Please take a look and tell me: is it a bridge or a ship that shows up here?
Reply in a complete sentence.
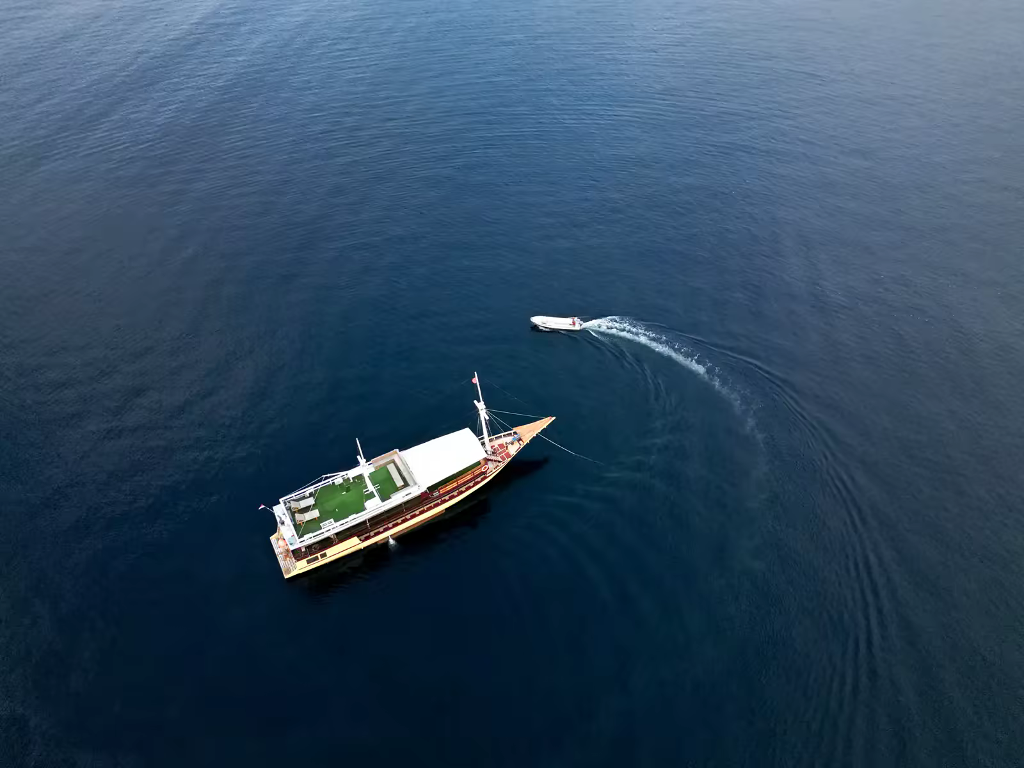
The image shows a ship.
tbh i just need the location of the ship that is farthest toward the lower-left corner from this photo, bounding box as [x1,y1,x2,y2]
[269,372,556,579]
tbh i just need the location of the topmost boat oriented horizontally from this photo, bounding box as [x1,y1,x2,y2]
[531,315,586,330]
